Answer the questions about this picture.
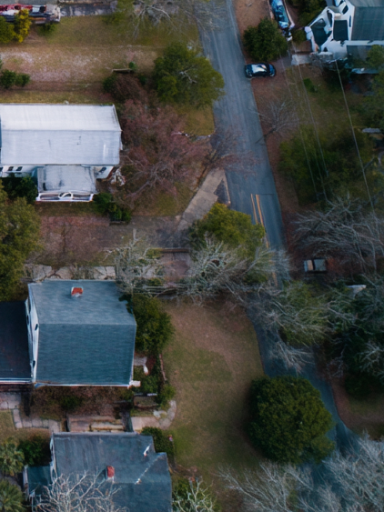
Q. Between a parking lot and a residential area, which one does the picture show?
residential area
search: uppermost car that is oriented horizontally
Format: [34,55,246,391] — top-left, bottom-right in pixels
[242,65,275,79]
